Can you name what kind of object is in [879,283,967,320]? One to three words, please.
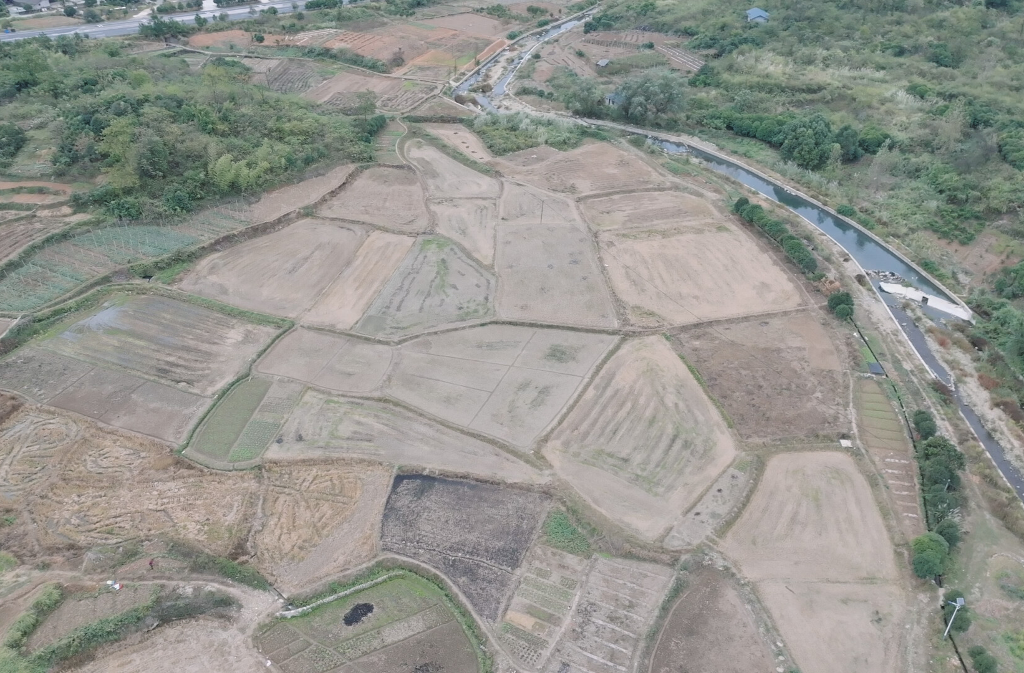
dam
